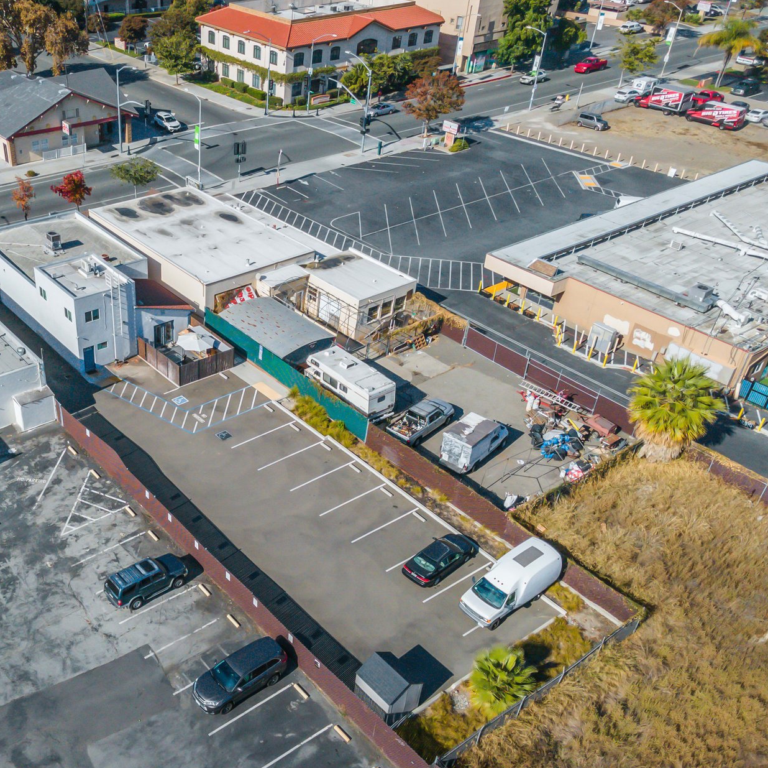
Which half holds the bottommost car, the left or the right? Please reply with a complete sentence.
It is on the left.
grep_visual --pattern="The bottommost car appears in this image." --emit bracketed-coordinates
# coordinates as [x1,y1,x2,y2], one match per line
[185,634,291,719]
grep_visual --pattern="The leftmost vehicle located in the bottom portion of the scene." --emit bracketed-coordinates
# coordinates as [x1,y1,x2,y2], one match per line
[103,550,195,612]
